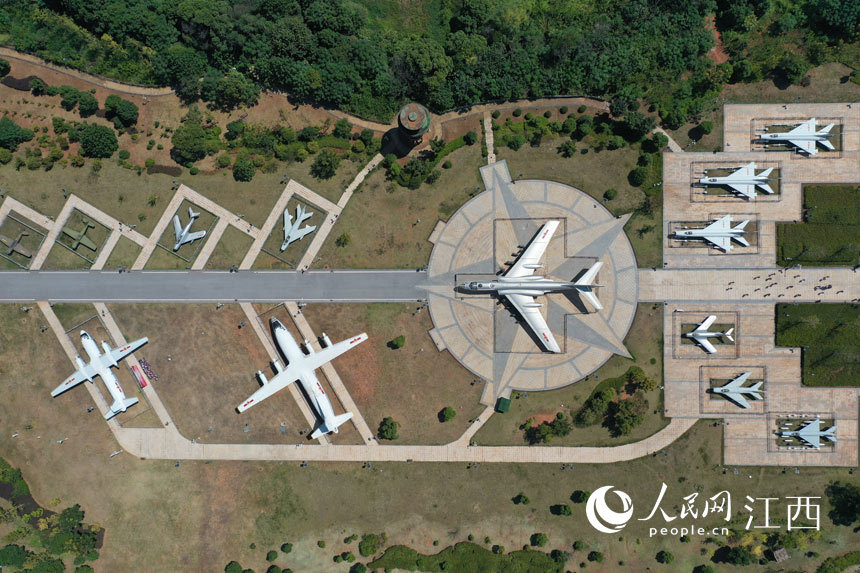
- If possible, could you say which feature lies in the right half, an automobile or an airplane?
airplane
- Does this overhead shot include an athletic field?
No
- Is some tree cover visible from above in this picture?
Yes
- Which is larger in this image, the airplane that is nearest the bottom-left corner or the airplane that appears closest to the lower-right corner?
the airplane that is nearest the bottom-left corner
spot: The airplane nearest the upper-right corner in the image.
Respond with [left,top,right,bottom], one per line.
[757,119,838,155]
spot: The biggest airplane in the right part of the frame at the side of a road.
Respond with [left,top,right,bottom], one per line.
[456,222,603,351]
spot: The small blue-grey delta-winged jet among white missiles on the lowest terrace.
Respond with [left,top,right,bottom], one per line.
[780,420,839,448]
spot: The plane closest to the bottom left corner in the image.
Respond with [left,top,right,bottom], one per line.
[50,331,149,418]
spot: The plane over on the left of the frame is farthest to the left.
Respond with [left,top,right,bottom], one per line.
[0,225,33,257]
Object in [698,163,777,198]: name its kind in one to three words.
airplane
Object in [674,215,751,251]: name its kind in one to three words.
airplane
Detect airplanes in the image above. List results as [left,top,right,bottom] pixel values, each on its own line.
[456,222,603,351]
[712,373,766,408]
[50,331,149,418]
[757,119,838,155]
[780,420,839,448]
[685,316,732,354]
[0,225,33,257]
[174,209,205,250]
[281,202,315,253]
[674,215,751,251]
[61,218,97,251]
[235,318,367,440]
[698,163,777,198]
